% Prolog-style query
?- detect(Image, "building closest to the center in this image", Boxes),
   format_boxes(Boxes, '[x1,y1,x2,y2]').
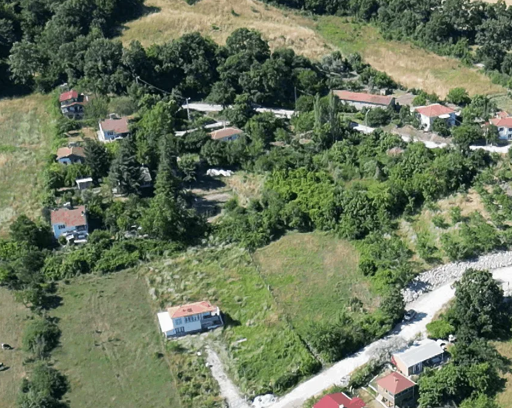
[200,117,242,147]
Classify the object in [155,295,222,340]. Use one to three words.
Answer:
house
